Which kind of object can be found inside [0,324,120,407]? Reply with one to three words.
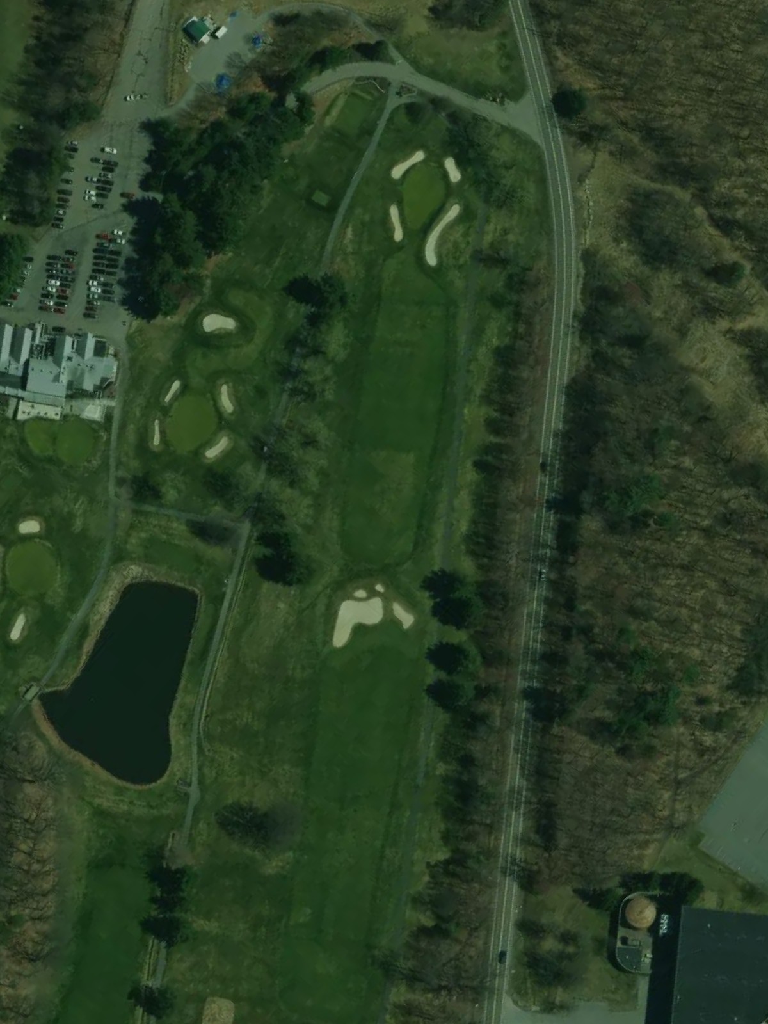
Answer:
building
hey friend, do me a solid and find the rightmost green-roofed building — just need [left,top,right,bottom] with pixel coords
[183,16,214,43]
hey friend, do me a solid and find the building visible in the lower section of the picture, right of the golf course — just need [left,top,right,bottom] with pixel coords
[666,904,768,1024]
